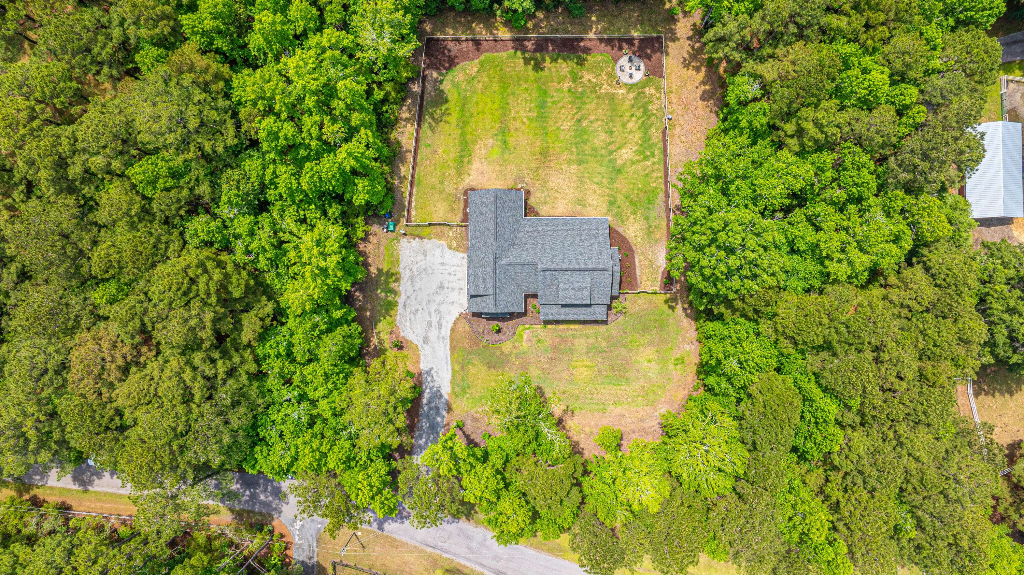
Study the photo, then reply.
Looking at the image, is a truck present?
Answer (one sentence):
No, no truck is visible in the scene.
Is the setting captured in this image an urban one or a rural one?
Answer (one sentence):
It looks rural.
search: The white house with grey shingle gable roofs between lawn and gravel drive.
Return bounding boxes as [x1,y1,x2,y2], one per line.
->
[466,188,621,320]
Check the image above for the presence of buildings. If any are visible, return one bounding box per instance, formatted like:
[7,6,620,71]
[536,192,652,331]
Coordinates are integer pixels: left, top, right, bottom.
[466,188,621,320]
[954,120,1022,219]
